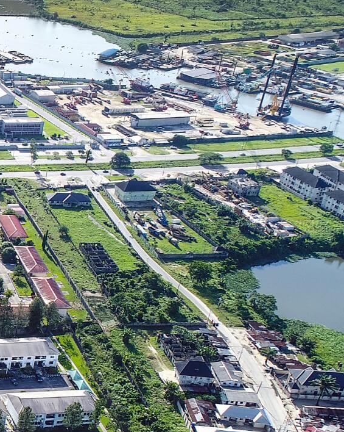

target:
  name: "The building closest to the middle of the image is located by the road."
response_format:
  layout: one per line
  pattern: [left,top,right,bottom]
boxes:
[115,183,157,201]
